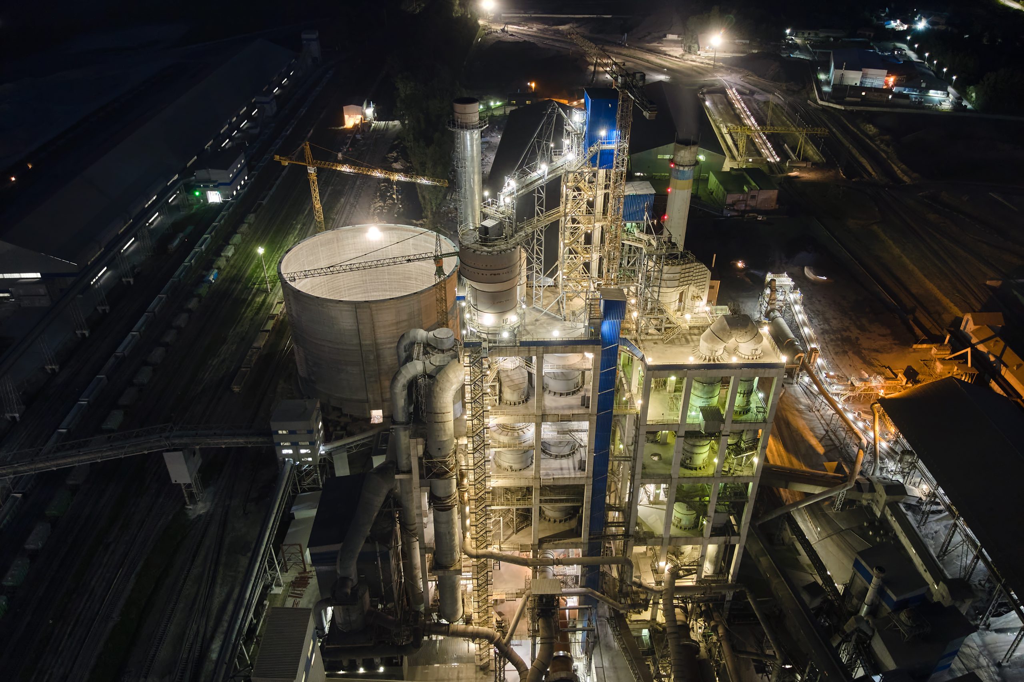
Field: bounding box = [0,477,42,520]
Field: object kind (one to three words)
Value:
rail car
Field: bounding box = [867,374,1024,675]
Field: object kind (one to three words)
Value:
warehouse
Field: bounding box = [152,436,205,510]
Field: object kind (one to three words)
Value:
house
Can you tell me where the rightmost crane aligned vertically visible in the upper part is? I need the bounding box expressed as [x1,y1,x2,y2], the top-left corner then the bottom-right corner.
[567,23,657,288]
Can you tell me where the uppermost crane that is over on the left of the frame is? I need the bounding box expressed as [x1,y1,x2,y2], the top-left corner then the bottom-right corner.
[273,142,448,233]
